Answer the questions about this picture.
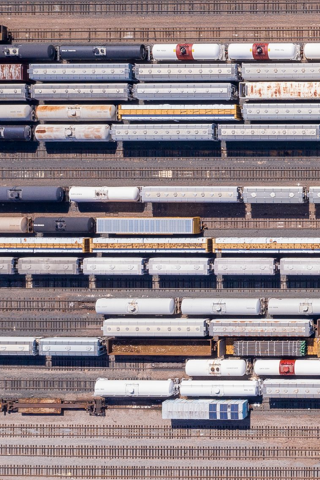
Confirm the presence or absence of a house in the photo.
No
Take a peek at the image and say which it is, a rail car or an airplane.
rail car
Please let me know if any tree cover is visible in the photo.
No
